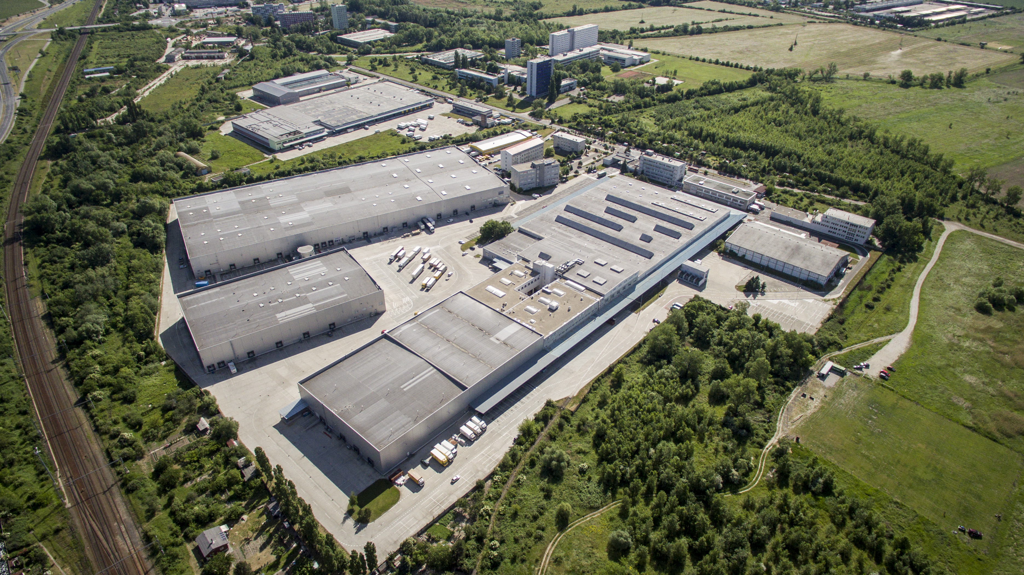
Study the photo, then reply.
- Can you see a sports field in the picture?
Yes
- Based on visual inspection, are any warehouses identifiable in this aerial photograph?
Yes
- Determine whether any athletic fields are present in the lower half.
Yes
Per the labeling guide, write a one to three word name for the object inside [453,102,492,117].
building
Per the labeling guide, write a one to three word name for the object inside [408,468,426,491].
vehicle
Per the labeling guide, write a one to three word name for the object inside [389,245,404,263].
vehicle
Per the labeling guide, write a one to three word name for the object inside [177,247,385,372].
warehouse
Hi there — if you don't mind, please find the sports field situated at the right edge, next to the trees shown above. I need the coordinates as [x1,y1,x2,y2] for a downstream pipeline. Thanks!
[793,373,1020,542]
